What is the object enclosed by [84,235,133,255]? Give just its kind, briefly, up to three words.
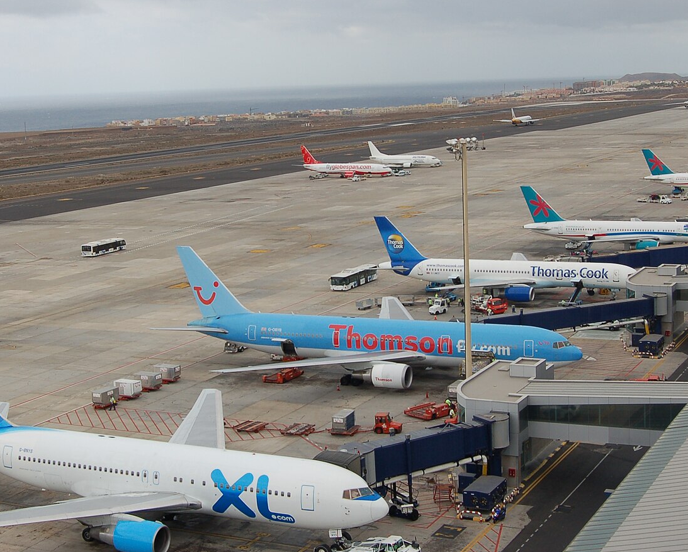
bus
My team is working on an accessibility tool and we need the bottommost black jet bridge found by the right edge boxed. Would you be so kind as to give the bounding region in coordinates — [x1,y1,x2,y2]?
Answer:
[452,291,671,335]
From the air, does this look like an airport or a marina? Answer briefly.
airport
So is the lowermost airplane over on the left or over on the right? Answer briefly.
left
